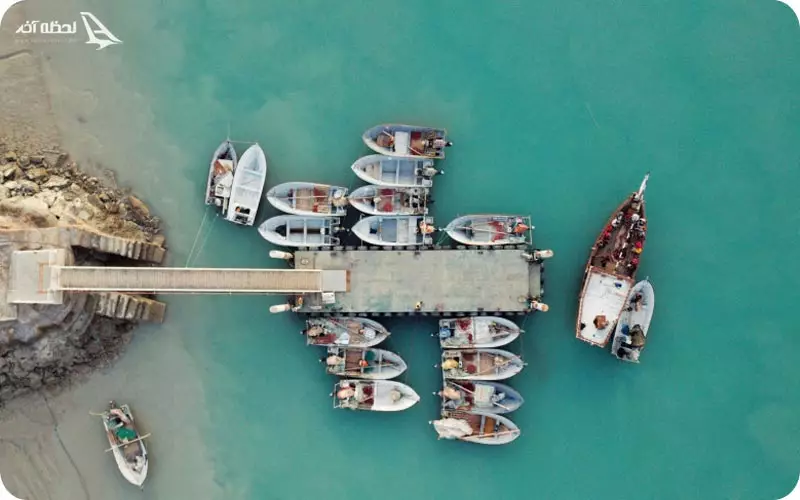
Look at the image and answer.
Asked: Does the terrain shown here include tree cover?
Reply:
No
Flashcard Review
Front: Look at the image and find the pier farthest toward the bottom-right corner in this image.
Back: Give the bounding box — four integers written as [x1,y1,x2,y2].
[279,246,545,316]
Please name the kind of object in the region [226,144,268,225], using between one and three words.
boat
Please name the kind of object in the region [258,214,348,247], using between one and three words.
boat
